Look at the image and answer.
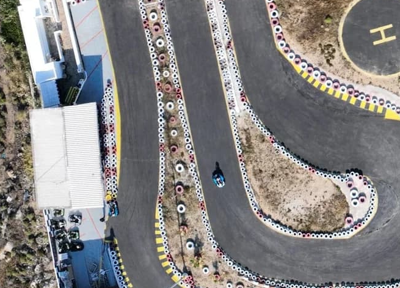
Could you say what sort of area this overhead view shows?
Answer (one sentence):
The area seen from above is a sports ground.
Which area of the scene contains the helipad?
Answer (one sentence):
The helipad appears toward the top right of the photo.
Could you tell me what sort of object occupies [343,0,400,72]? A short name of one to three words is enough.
helipad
